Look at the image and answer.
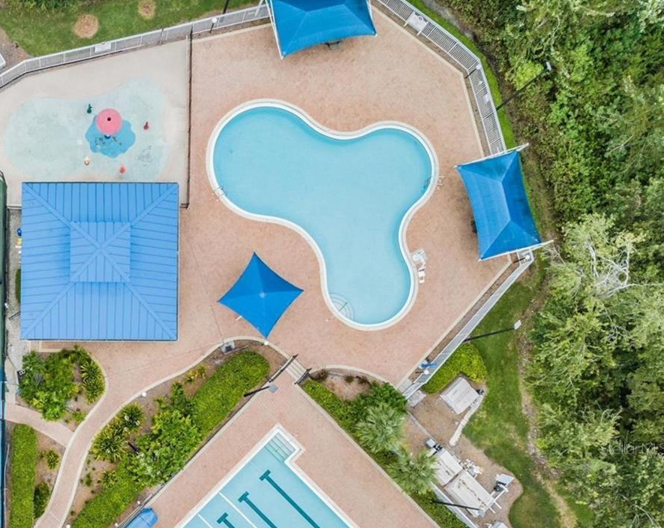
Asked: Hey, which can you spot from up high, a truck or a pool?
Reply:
pool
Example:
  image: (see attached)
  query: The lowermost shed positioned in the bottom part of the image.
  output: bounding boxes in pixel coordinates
[434,378,483,413]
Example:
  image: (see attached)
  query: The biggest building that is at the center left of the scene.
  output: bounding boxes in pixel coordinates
[19,181,181,344]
